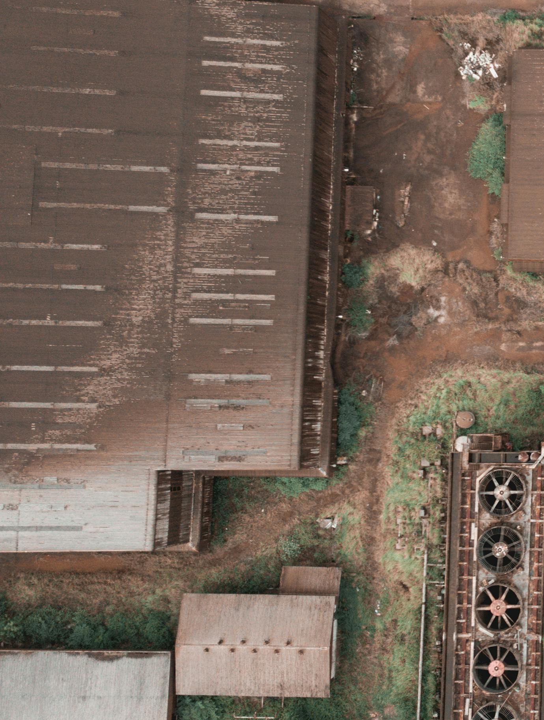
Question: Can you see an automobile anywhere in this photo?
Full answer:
No, the picture doesn't show any automobile.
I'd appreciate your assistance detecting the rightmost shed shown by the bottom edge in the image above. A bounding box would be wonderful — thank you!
[175,563,348,699]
